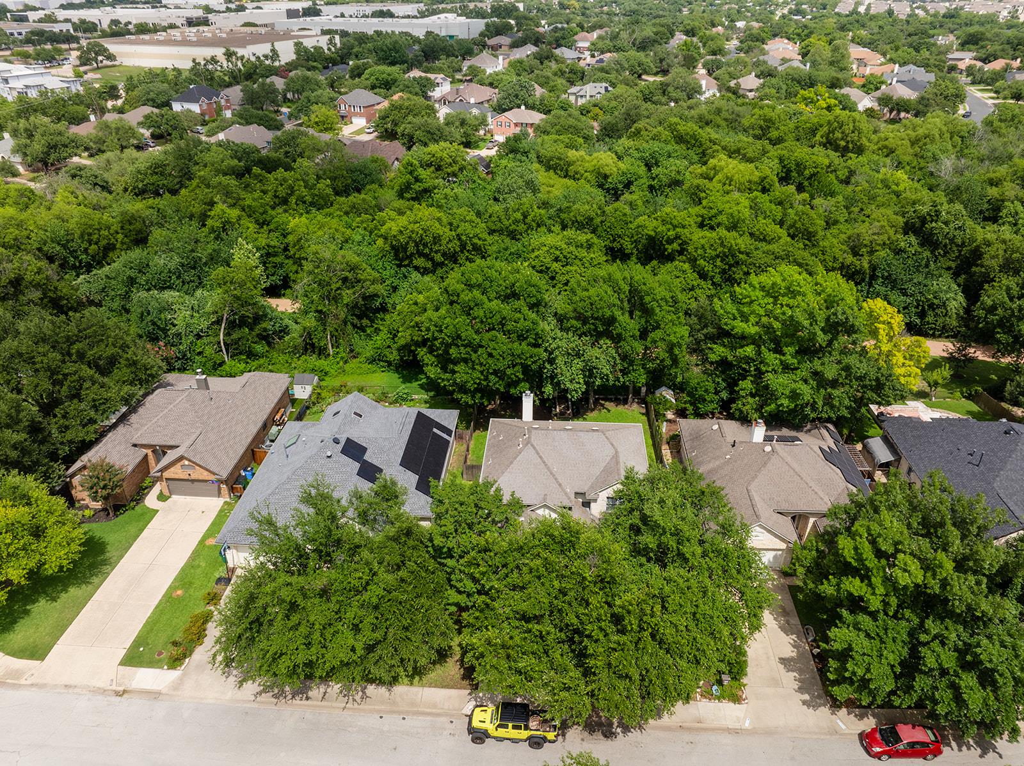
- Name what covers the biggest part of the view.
trees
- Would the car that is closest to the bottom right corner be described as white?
No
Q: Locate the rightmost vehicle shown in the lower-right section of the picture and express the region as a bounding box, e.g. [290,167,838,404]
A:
[862,719,951,762]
